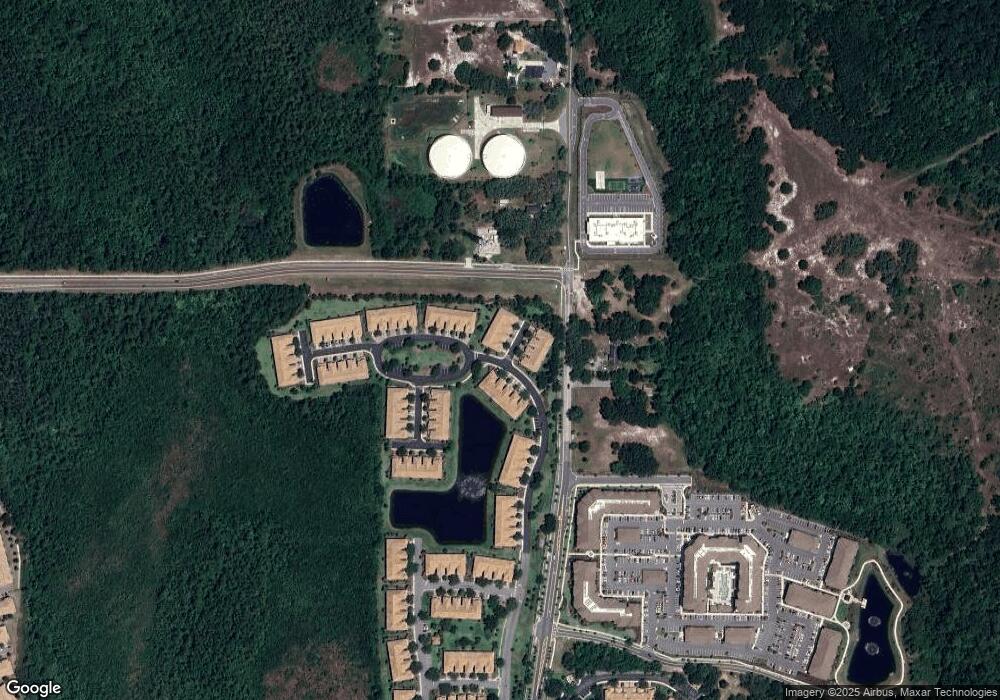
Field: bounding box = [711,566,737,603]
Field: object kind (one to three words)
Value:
swimming pool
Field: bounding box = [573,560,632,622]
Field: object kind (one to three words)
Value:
building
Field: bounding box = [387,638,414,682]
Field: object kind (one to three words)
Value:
house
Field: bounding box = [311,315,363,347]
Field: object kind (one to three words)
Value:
house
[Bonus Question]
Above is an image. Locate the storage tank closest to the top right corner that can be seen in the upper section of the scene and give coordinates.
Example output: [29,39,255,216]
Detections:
[482,136,525,179]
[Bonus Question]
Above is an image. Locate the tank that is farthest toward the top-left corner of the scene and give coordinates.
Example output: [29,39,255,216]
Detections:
[429,136,473,179]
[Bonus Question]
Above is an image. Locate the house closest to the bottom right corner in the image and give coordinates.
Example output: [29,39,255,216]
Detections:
[808,628,843,679]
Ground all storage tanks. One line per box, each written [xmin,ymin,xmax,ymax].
[429,136,473,179]
[482,136,525,179]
